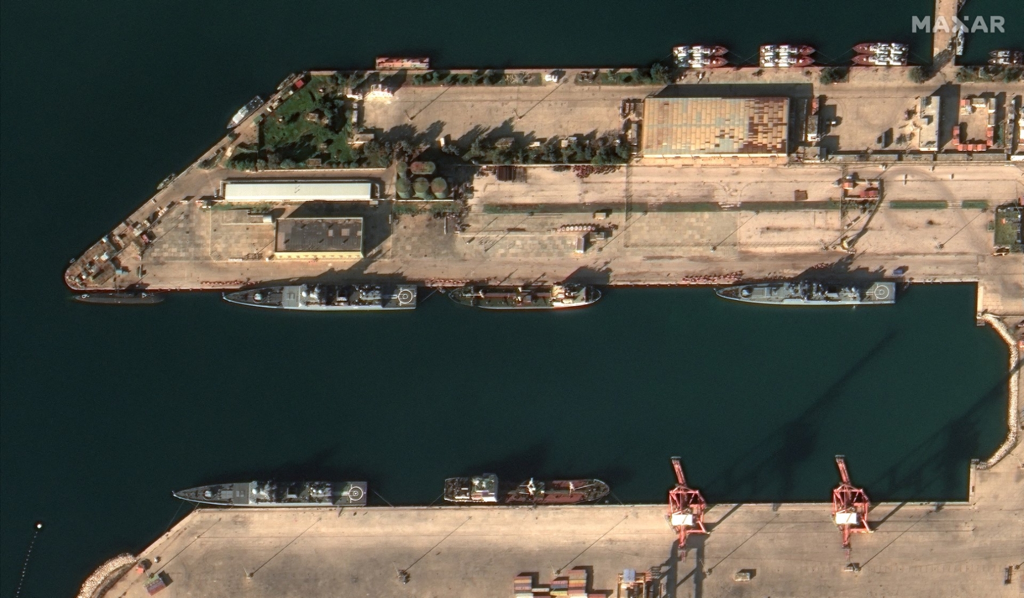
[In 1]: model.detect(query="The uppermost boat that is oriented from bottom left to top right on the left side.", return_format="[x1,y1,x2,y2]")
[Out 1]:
[275,71,300,92]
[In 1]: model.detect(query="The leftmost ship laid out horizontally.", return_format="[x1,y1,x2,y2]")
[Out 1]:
[76,290,162,303]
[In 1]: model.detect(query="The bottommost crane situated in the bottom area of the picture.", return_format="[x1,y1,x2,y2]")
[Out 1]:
[618,570,652,598]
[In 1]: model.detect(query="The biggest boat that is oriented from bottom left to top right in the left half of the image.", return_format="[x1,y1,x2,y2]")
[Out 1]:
[228,94,267,130]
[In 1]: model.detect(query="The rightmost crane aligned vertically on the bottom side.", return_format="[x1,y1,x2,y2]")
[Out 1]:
[833,457,873,565]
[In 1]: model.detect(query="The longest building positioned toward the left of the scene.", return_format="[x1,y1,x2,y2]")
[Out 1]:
[225,184,372,200]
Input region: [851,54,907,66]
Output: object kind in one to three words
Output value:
boat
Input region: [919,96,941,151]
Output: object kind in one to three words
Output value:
building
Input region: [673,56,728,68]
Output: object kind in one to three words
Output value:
boat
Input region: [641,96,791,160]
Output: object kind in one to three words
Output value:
building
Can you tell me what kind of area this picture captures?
port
